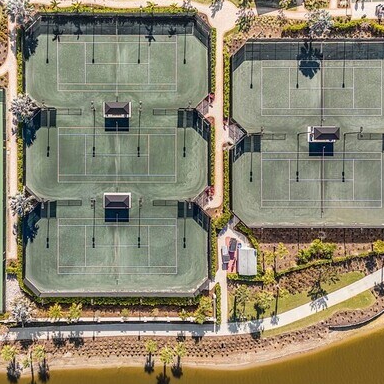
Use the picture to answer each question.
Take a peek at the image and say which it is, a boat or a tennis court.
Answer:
tennis court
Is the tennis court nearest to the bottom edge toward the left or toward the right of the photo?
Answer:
left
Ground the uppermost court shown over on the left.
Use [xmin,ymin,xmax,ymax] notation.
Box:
[26,17,208,107]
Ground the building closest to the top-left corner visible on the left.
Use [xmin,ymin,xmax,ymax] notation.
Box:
[103,102,131,117]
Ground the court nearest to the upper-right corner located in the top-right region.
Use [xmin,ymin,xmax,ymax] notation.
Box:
[229,43,384,133]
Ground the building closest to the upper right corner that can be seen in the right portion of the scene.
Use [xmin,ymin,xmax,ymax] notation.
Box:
[308,126,340,142]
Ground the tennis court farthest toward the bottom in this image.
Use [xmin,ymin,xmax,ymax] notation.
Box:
[26,200,208,292]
